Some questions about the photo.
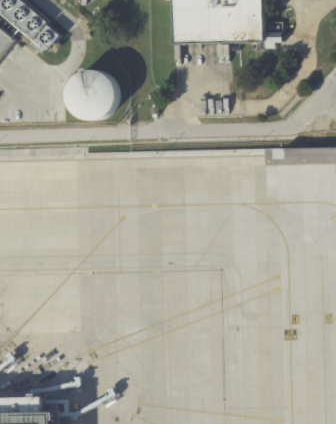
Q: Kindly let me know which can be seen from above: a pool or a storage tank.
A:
storage tank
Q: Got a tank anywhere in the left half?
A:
Yes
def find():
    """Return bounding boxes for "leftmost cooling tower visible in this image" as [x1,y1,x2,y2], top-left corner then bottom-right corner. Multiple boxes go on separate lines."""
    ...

[0,0,62,52]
